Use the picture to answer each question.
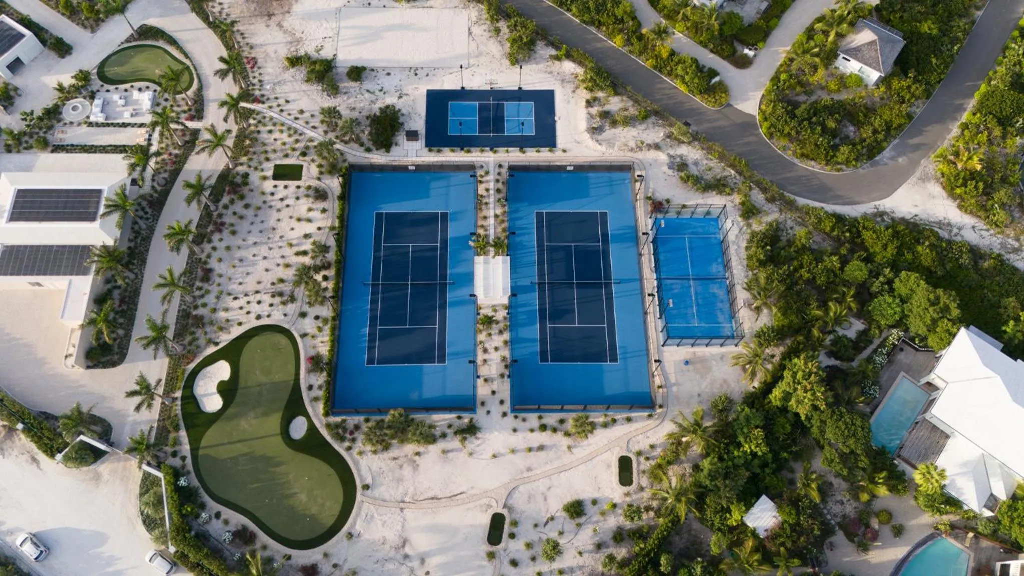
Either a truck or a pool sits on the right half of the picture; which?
pool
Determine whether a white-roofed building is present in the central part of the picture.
Yes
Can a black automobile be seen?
No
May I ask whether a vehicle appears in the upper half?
No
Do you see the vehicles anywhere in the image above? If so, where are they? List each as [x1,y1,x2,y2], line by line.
[11,532,49,564]
[141,547,177,576]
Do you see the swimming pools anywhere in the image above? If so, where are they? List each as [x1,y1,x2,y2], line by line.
[886,527,975,576]
[870,371,929,457]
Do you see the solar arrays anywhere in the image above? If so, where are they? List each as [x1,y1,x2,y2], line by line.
[9,191,103,222]
[0,247,91,275]
[0,22,25,55]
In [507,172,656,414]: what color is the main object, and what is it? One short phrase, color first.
blue tennis court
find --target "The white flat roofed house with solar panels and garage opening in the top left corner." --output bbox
[0,12,42,78]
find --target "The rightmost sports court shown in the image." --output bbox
[647,216,739,348]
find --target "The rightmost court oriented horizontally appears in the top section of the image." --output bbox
[423,89,556,148]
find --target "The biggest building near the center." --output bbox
[474,256,511,307]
